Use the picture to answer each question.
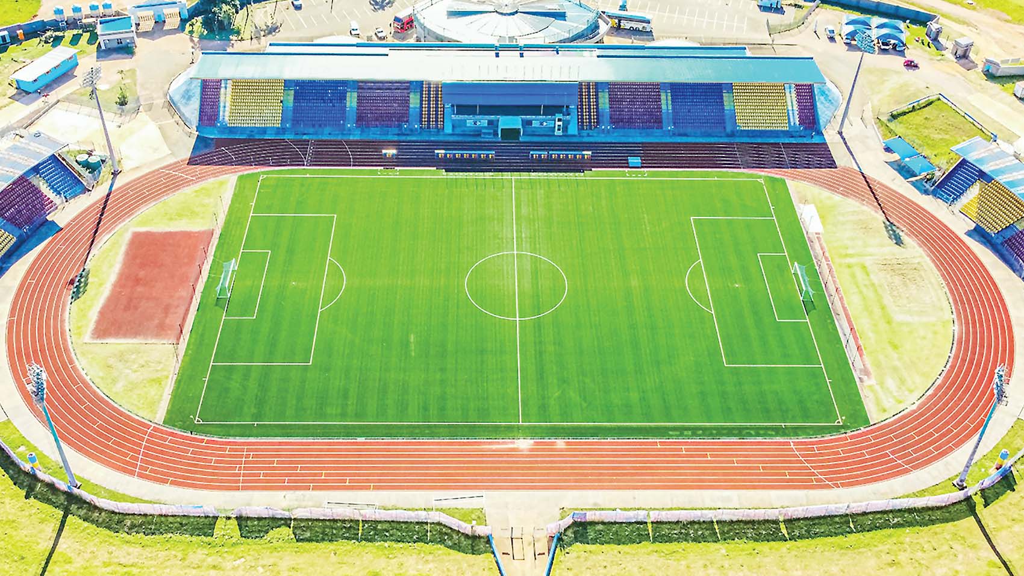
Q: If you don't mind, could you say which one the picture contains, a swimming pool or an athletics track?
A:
athletics track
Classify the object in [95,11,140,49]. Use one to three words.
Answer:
house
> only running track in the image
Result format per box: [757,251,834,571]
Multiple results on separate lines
[7,139,1014,490]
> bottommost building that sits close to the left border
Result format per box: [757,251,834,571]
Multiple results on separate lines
[6,44,79,92]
